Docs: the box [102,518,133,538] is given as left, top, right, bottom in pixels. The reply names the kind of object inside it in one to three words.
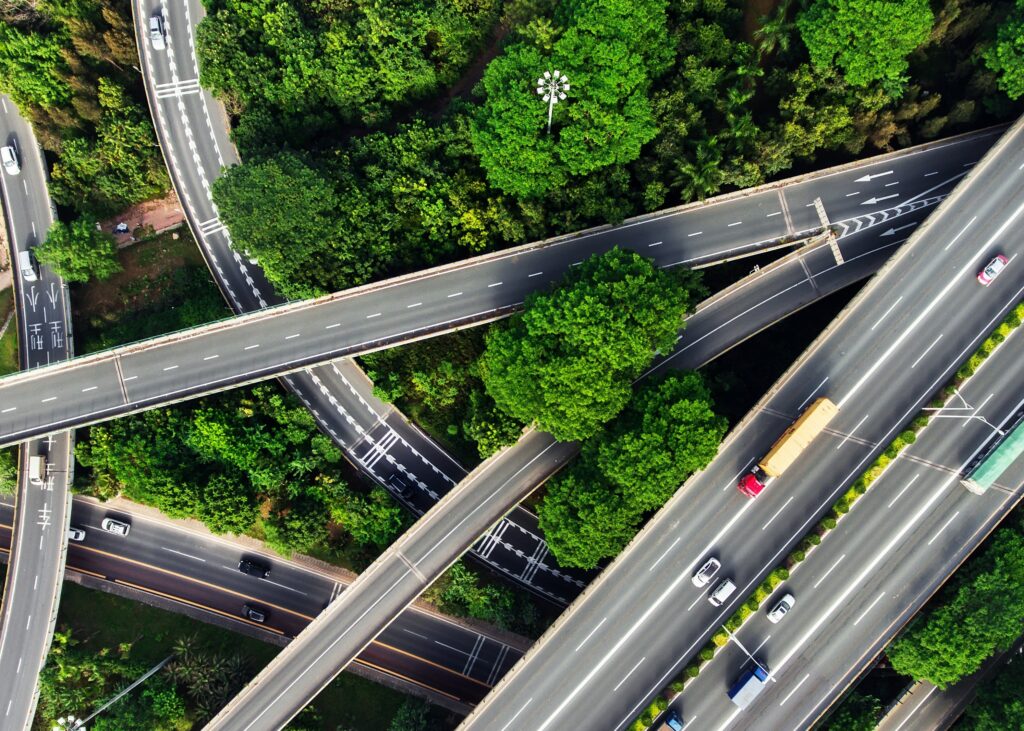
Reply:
car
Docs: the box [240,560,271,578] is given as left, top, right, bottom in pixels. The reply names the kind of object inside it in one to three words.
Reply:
car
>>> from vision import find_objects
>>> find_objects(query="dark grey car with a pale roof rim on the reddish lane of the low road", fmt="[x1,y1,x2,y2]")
[241,605,268,623]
